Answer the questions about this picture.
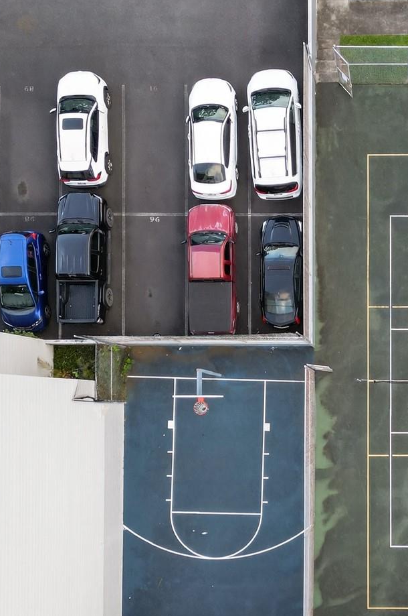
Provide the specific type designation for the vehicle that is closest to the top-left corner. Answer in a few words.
automobile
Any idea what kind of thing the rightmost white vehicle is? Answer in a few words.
automobile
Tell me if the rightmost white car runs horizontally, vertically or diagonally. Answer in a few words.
vertically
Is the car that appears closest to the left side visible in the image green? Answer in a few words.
No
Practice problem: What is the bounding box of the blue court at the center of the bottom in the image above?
[121,345,316,616]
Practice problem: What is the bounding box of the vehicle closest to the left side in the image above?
[0,230,51,334]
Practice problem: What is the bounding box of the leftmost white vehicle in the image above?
[49,71,112,189]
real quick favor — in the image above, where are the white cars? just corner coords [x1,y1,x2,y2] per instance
[49,71,112,189]
[243,69,300,201]
[182,78,239,202]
